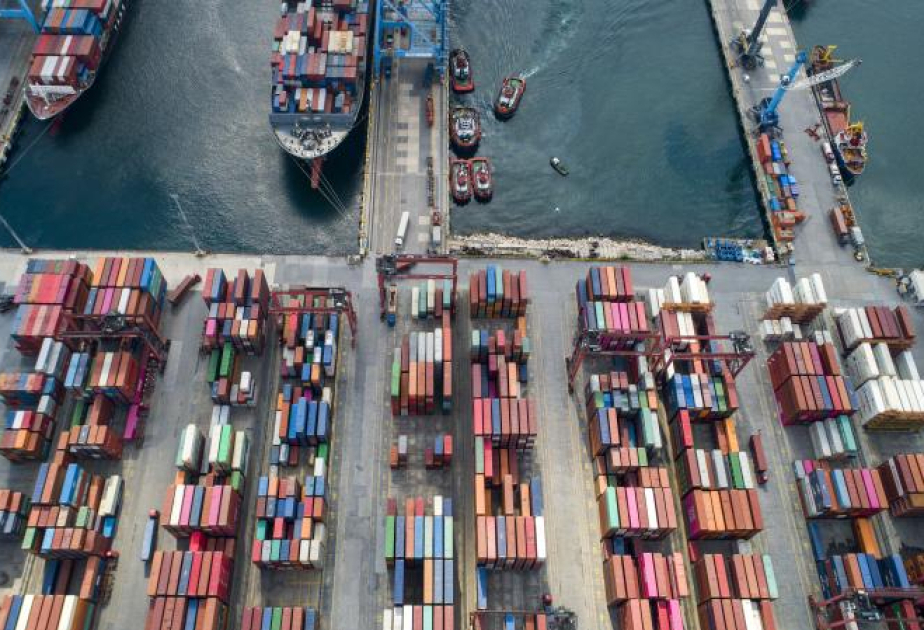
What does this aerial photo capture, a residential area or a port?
port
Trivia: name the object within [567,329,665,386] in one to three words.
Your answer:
container crane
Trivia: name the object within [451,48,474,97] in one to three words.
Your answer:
boat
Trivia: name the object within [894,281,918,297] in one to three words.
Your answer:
work vehicle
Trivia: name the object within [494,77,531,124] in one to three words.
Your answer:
boat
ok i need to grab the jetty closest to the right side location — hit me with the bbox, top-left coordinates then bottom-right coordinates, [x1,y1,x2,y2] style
[707,0,869,261]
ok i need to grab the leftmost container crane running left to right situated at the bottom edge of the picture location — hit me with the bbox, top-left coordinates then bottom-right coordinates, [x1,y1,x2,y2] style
[469,602,580,630]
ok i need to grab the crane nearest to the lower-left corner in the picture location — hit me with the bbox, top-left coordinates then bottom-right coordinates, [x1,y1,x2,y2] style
[49,310,172,367]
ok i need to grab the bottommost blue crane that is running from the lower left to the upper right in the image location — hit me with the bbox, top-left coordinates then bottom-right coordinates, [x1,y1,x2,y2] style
[743,53,863,134]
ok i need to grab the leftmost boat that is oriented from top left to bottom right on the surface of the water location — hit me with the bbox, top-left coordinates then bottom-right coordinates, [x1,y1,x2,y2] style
[553,156,570,174]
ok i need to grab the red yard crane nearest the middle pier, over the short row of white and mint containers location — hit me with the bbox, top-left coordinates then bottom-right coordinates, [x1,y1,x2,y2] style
[375,253,458,311]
